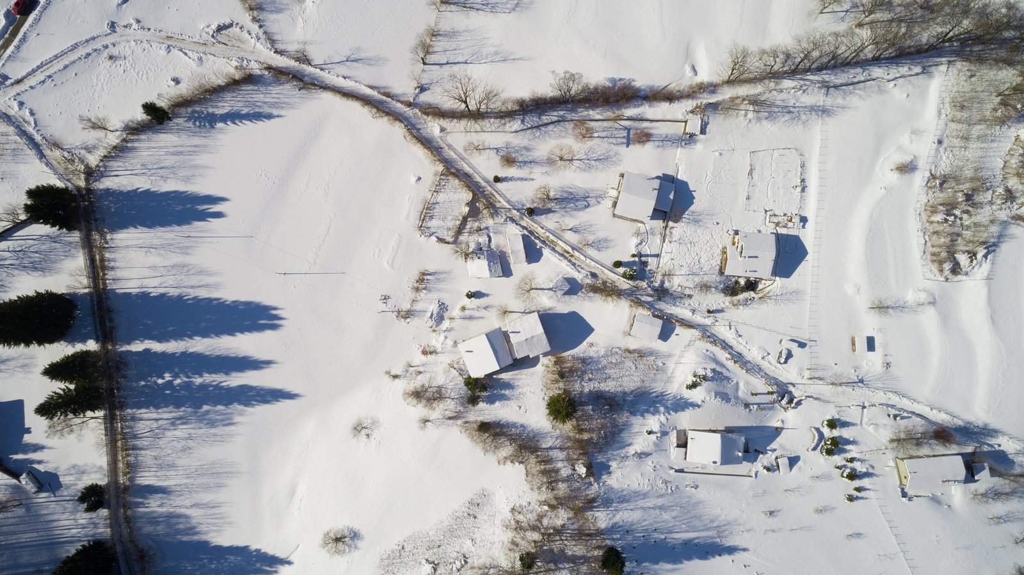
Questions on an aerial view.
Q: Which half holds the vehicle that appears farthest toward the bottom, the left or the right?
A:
left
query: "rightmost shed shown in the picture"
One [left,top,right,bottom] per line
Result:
[966,461,992,479]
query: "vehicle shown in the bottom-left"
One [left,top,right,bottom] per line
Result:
[15,471,40,495]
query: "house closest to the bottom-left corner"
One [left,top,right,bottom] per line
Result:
[458,327,513,378]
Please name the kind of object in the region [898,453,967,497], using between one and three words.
house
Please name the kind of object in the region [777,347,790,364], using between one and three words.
vehicle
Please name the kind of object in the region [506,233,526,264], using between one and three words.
building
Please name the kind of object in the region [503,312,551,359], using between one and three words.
house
